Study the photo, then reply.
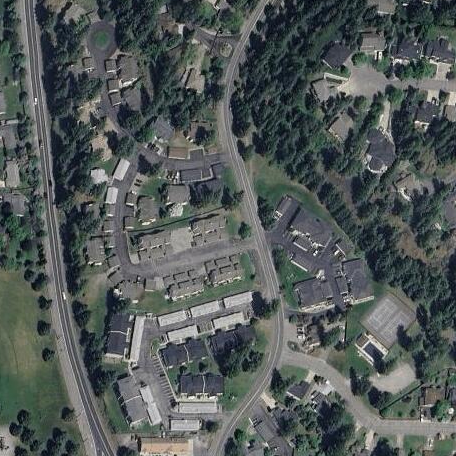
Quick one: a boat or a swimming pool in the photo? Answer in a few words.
swimming pool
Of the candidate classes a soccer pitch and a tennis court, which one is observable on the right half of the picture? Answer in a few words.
tennis court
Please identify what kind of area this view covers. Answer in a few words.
residential area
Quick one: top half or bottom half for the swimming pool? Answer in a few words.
bottom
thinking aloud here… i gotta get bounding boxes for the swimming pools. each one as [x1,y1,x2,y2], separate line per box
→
[357,337,389,363]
